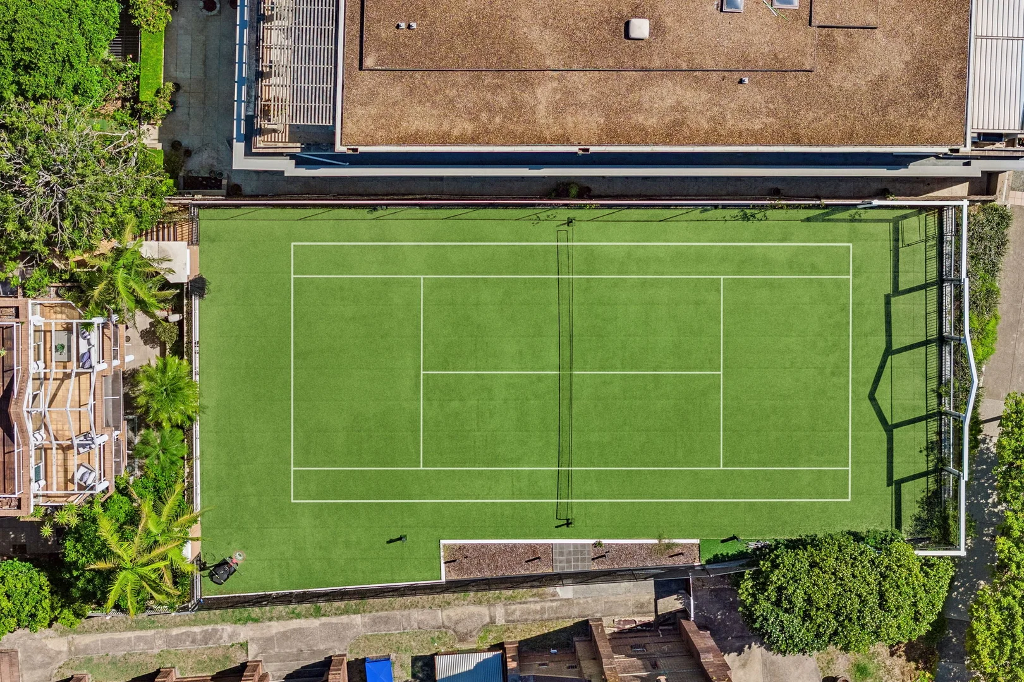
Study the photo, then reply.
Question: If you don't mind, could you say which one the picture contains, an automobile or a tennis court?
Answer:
tennis court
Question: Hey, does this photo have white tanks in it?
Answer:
No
